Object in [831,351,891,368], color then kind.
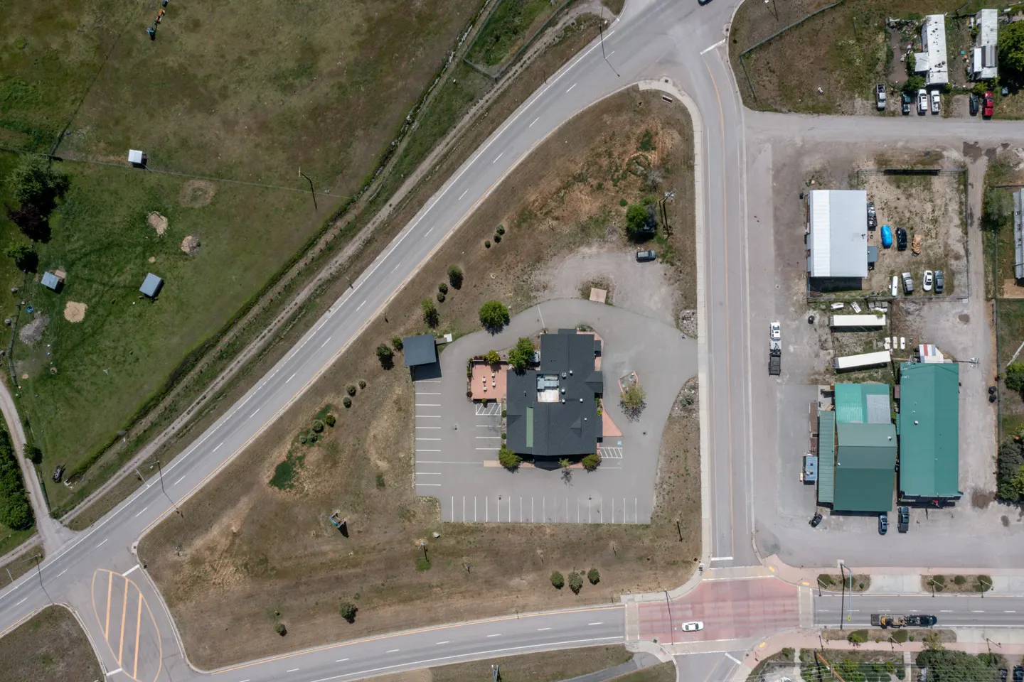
white trailer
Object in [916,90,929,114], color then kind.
white vehicle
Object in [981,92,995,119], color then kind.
red vehicle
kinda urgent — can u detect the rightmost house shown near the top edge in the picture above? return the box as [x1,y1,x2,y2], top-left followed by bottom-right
[968,9,998,82]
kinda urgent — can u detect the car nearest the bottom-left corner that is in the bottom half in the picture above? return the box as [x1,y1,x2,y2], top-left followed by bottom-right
[52,465,66,483]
